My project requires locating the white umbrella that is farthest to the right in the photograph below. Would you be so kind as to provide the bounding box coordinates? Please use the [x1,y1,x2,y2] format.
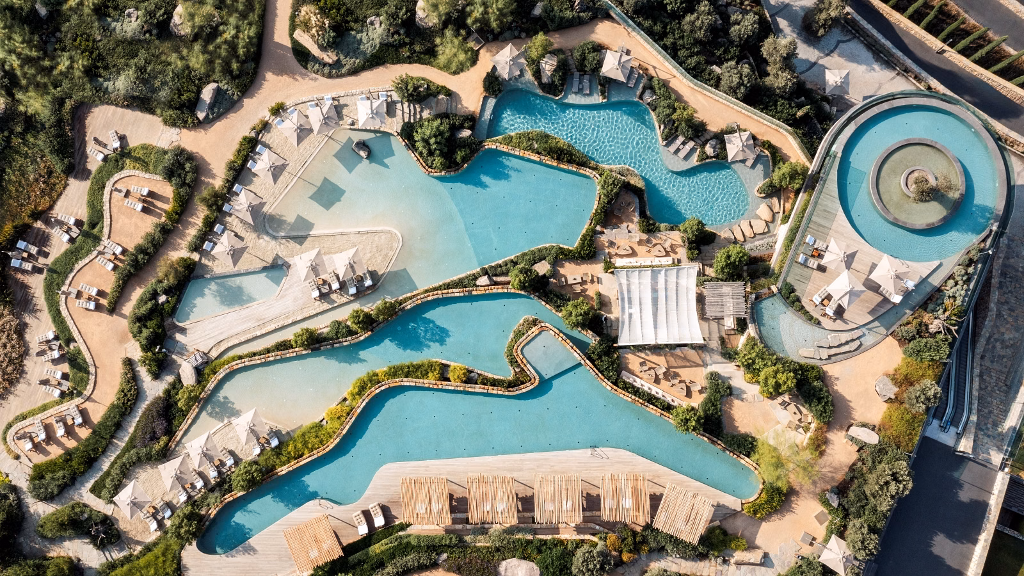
[869,255,915,295]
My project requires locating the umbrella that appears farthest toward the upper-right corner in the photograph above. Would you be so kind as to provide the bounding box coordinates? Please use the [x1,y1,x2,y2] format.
[823,69,850,96]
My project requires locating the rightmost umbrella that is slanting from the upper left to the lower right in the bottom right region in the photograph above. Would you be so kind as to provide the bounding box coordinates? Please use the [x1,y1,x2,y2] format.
[793,525,855,573]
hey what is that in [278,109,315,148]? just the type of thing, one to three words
umbrella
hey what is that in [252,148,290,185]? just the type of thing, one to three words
umbrella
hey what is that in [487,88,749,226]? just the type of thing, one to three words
swimming pool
